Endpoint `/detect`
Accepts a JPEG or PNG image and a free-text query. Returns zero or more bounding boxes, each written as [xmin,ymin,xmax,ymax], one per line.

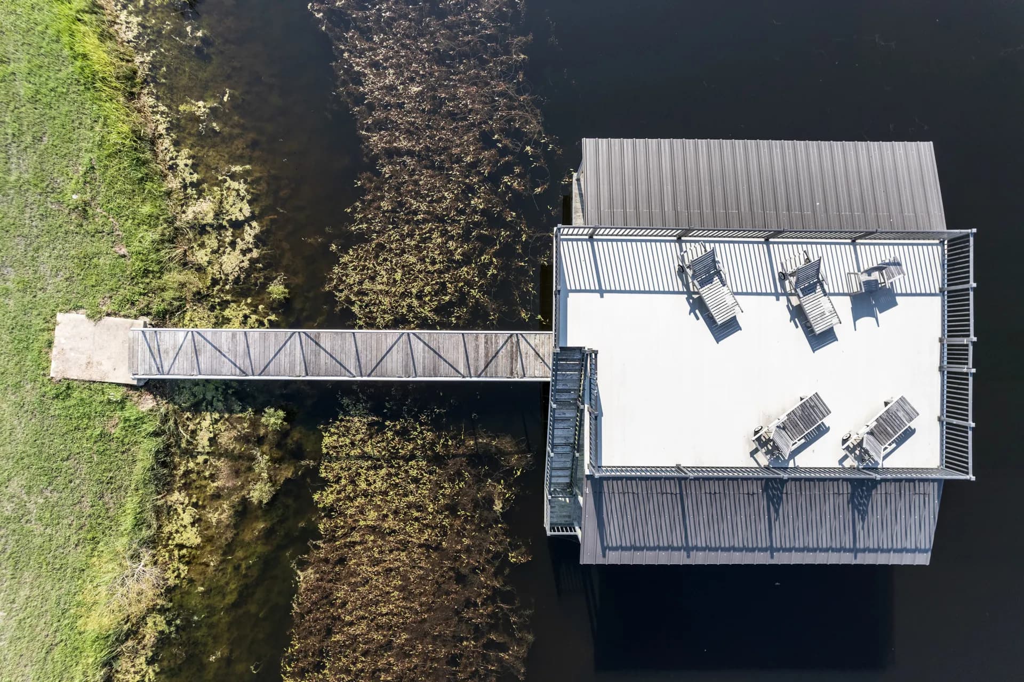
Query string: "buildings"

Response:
[543,138,977,567]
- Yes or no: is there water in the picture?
Yes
